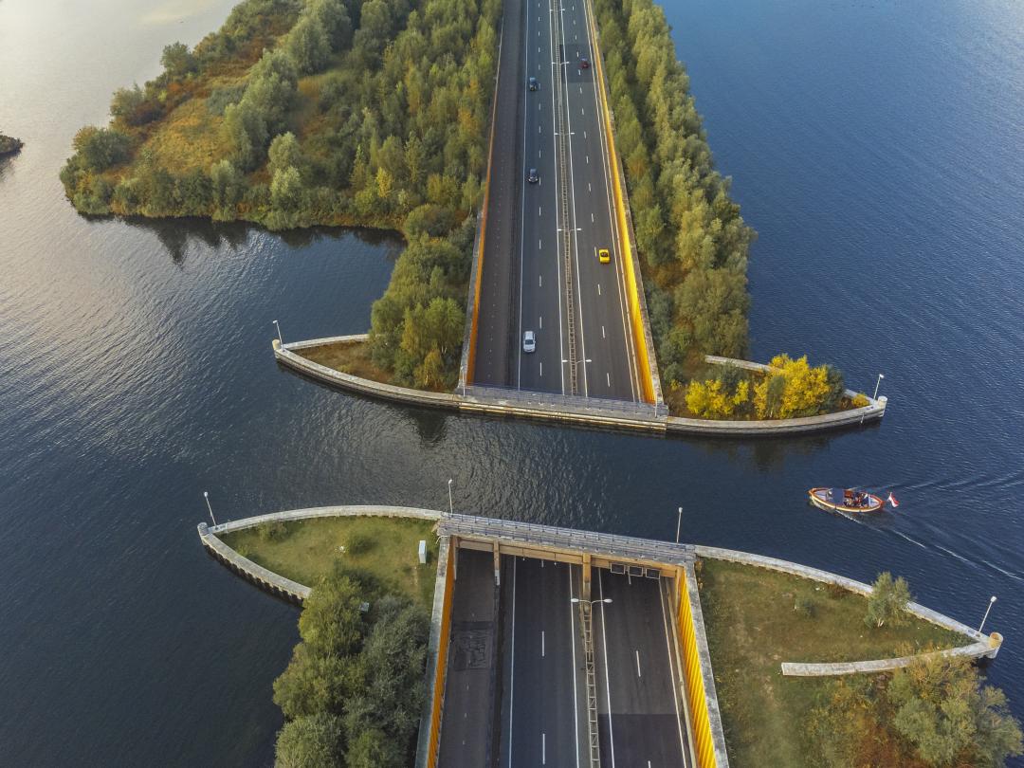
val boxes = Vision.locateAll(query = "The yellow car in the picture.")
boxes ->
[598,248,610,262]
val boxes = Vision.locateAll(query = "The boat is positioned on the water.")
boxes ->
[809,485,900,508]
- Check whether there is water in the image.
Yes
